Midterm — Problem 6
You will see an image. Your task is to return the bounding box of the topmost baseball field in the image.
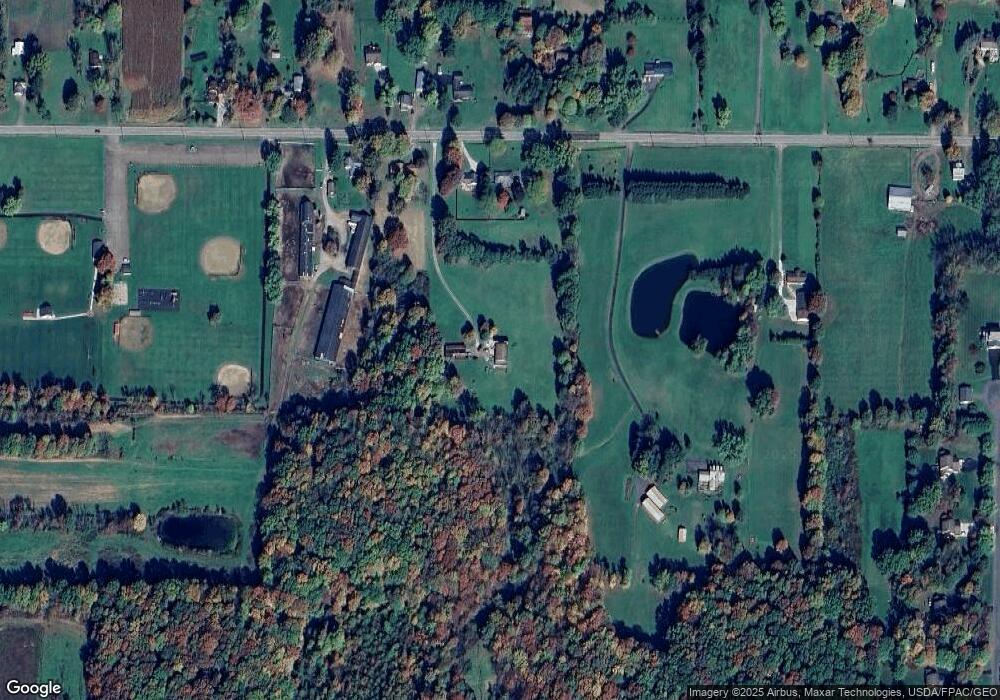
[137,172,176,213]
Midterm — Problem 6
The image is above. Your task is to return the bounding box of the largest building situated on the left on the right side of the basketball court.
[314,283,361,363]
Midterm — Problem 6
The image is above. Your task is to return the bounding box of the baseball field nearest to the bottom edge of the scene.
[217,363,252,396]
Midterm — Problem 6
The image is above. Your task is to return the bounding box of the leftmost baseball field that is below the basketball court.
[118,315,153,351]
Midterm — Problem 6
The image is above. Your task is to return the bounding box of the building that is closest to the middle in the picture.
[495,342,509,366]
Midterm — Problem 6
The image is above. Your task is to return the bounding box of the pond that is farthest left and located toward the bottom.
[158,514,240,553]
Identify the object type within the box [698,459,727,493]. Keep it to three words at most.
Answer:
house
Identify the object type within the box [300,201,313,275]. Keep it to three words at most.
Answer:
barn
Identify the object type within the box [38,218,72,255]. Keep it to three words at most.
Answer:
baseball field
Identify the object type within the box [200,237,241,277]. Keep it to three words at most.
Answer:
baseball field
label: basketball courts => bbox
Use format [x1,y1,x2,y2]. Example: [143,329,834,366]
[138,289,179,310]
